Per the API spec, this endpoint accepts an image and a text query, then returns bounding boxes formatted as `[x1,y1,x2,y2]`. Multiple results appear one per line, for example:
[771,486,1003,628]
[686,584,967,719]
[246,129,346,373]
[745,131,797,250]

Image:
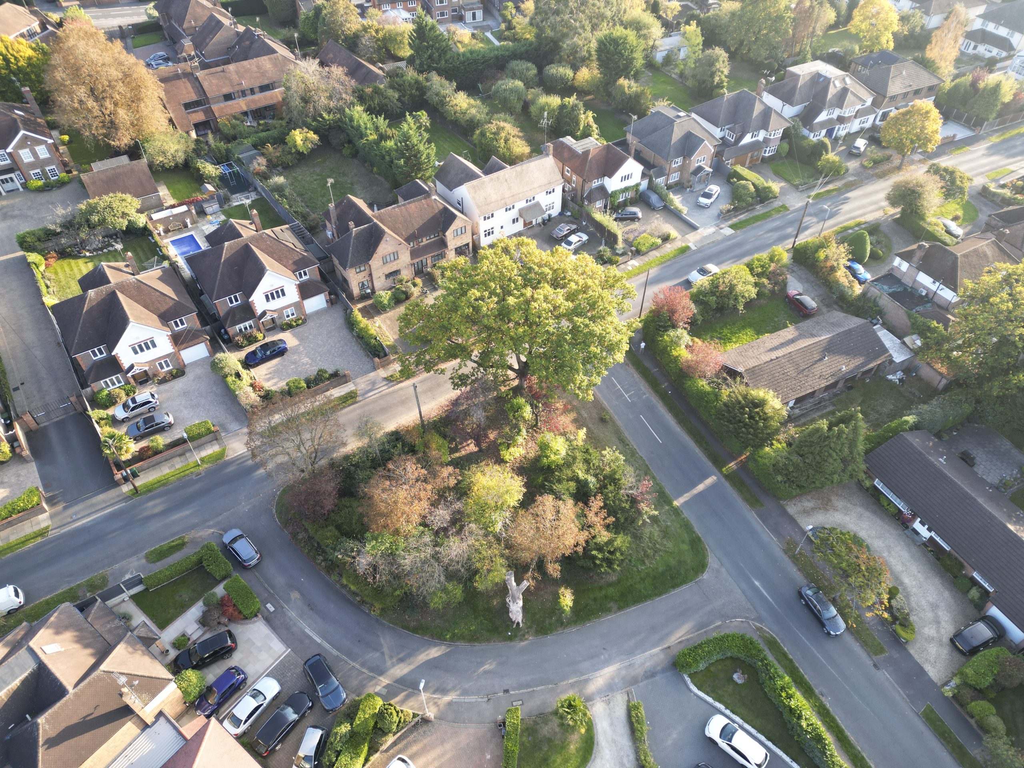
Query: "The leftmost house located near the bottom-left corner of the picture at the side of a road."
[0,598,189,768]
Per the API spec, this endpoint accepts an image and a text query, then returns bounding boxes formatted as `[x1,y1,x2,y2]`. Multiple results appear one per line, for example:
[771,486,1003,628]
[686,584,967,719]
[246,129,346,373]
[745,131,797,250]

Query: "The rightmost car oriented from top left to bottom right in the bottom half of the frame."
[796,581,848,639]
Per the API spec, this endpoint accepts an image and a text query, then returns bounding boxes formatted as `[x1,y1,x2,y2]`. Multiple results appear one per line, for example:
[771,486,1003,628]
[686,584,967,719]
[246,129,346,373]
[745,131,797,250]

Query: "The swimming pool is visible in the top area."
[168,233,205,257]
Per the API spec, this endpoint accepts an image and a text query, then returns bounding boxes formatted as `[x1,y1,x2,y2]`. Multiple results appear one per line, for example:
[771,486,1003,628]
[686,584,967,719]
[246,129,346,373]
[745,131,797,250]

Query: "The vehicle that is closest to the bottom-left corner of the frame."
[0,586,30,618]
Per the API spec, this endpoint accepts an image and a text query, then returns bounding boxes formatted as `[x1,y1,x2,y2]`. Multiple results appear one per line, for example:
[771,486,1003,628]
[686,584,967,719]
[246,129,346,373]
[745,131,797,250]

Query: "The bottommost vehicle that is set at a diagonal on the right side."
[701,711,770,768]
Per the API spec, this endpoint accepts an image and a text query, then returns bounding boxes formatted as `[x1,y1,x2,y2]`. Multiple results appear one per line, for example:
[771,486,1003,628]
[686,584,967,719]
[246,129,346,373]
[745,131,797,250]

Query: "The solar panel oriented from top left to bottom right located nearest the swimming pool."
[276,228,307,250]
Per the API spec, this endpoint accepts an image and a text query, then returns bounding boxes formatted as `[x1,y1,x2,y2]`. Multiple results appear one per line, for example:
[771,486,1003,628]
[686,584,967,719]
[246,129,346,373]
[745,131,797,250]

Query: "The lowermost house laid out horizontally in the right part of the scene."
[723,312,922,411]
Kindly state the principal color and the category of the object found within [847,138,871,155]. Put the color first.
white car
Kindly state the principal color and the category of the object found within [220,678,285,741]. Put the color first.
white car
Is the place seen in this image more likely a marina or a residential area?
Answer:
residential area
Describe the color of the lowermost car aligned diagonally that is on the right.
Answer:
white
